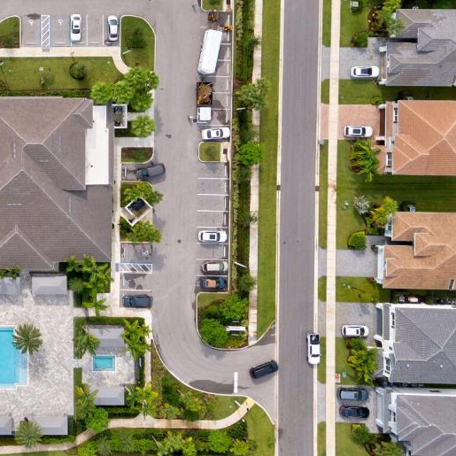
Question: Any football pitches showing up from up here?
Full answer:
No, there isn't any football pitch down there.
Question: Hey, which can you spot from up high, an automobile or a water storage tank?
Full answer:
I can see an automobile in this picture.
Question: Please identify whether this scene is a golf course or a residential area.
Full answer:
This looks like a residential area.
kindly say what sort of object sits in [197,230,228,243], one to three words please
vehicle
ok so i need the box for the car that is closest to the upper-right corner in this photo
[348,66,379,79]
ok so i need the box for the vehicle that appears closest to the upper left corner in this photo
[69,13,83,43]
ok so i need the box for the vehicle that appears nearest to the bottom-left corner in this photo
[122,294,151,307]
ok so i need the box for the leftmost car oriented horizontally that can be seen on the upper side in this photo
[136,163,167,180]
